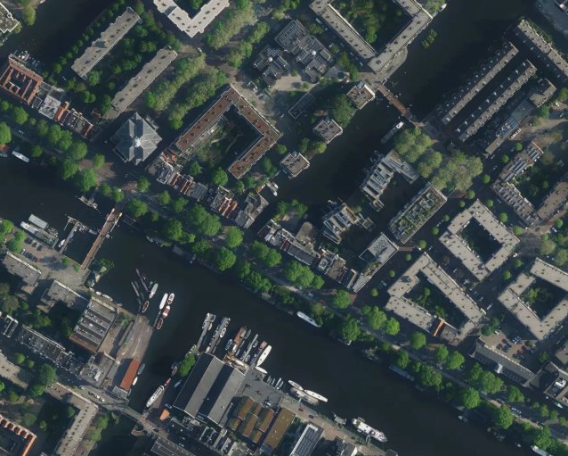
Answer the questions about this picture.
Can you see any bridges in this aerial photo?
Yes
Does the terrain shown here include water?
Yes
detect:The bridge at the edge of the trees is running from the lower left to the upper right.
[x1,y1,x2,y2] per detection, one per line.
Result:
[80,208,123,270]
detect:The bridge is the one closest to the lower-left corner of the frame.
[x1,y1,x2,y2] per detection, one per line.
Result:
[100,401,155,434]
